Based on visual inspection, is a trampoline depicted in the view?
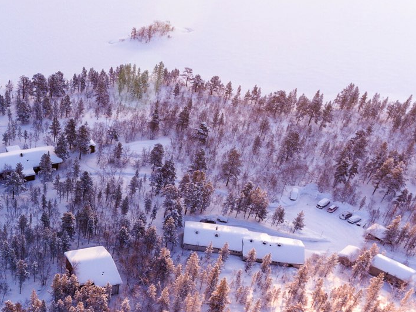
No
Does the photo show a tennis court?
No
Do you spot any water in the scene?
Yes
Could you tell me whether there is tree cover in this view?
Yes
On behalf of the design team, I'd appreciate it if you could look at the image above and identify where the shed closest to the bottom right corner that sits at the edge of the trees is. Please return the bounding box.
[370,252,416,288]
